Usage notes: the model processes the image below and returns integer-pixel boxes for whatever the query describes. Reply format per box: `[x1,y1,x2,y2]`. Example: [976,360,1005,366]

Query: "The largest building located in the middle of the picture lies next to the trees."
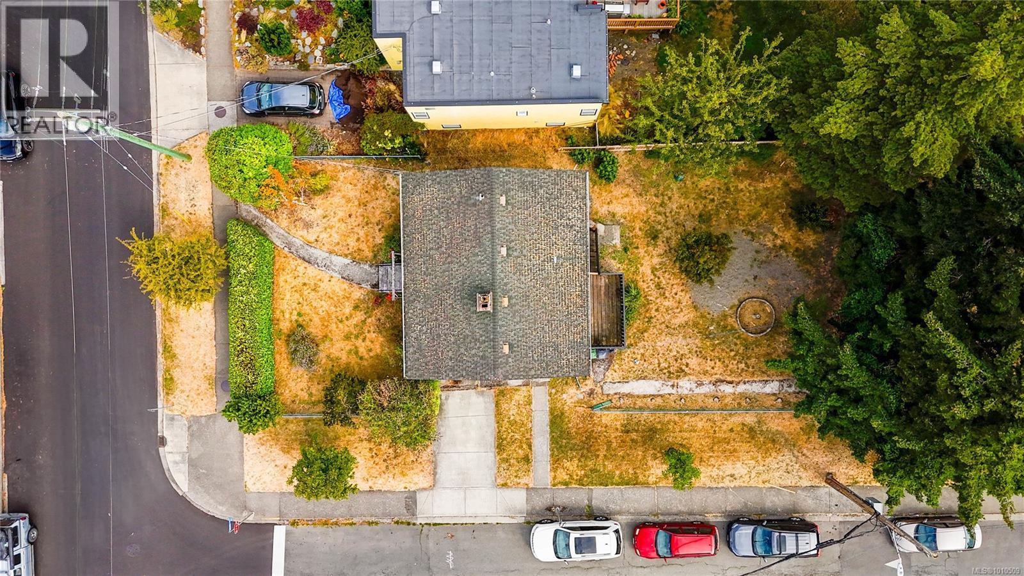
[399,167,593,382]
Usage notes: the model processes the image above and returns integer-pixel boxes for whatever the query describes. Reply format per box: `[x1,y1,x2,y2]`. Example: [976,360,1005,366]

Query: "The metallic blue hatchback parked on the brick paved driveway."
[241,75,327,120]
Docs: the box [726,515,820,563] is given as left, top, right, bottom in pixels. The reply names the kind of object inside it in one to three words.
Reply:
car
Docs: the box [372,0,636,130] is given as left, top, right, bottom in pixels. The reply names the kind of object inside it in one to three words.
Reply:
house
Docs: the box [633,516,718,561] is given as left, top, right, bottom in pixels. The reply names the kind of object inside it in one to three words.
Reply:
car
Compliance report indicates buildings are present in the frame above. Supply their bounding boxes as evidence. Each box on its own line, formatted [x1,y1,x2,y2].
[372,0,636,130]
[399,167,593,382]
